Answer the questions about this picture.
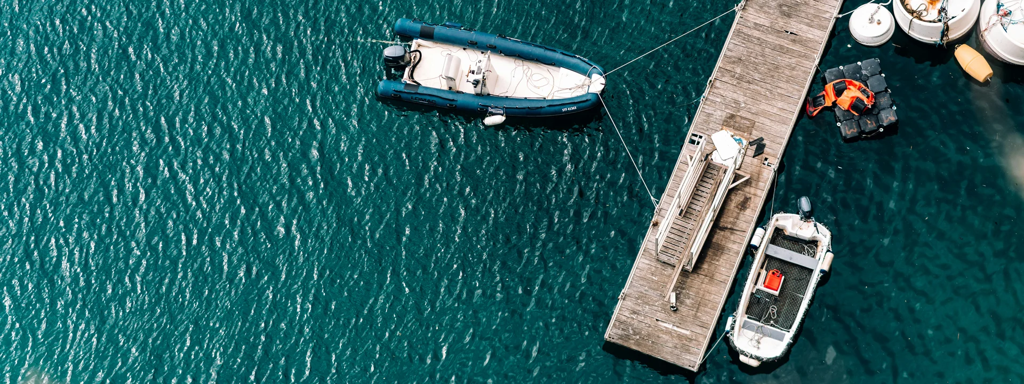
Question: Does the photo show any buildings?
No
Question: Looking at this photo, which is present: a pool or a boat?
boat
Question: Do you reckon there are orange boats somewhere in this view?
No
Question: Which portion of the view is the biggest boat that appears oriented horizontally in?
top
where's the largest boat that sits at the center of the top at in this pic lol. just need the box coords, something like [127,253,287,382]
[378,19,607,118]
